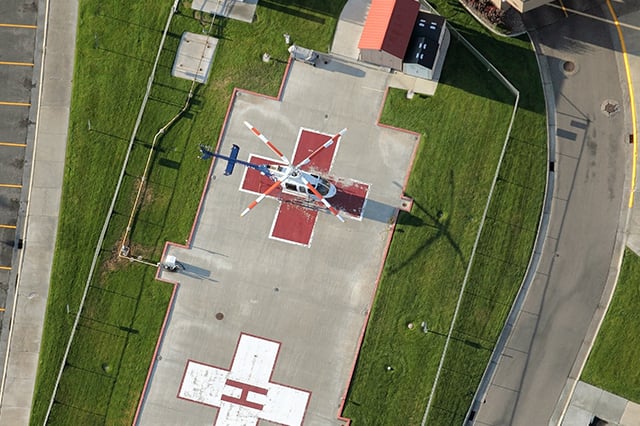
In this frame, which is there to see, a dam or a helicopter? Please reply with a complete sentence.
Of the two, only a helicopter appears.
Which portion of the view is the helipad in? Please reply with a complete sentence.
The helipad is located in the center region of the scene.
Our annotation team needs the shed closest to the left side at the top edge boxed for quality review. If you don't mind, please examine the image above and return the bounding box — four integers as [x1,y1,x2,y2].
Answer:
[358,0,419,72]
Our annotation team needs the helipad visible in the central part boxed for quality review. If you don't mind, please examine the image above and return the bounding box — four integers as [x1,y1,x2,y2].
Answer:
[135,58,420,426]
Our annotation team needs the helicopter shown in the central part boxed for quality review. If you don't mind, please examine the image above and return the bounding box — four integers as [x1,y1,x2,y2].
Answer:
[198,123,346,224]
